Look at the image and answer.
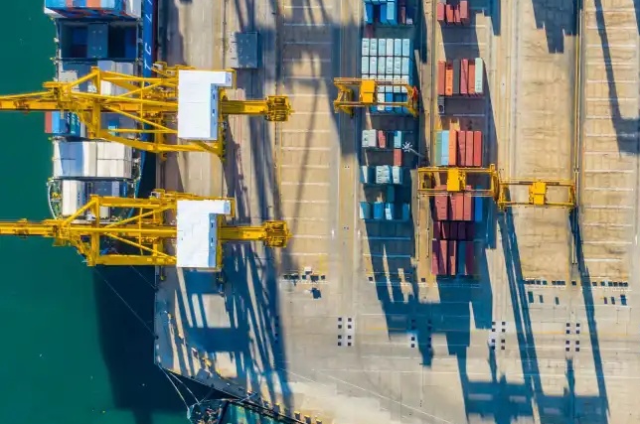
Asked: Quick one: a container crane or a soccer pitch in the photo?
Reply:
container crane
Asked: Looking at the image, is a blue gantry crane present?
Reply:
No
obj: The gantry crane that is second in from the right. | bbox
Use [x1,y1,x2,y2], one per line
[417,164,502,200]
